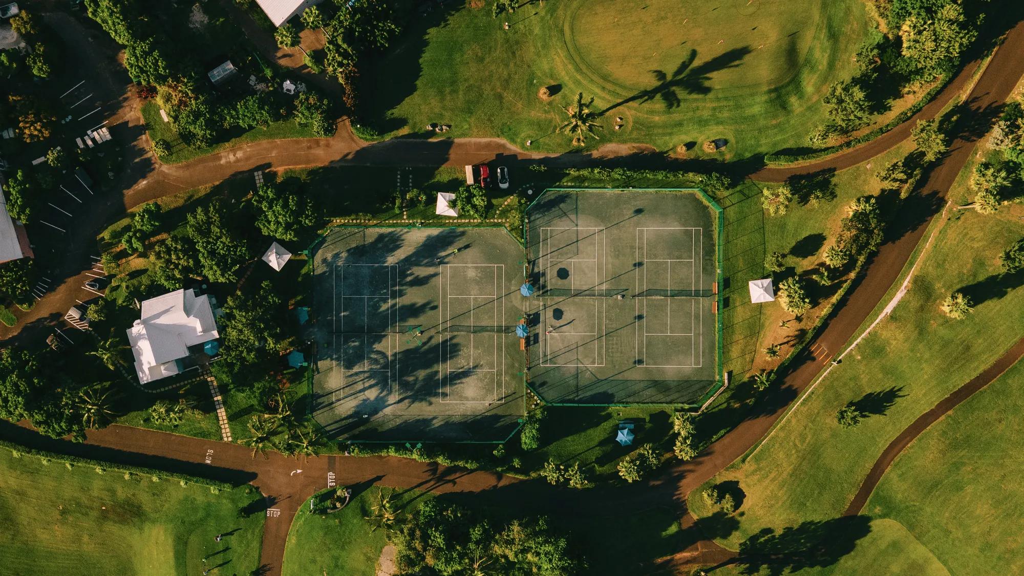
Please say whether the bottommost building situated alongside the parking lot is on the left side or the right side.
left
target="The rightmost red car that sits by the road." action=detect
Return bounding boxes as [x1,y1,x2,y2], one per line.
[479,164,491,188]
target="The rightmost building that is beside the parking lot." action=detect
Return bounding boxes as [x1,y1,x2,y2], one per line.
[126,289,223,384]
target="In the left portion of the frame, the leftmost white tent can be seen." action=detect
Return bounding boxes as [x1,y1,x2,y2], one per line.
[263,243,296,272]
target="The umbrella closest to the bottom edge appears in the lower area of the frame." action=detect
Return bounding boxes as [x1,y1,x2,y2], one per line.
[615,426,633,445]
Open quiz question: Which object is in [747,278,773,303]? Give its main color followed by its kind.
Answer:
white tent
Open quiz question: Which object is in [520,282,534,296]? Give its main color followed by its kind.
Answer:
blue umbrella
